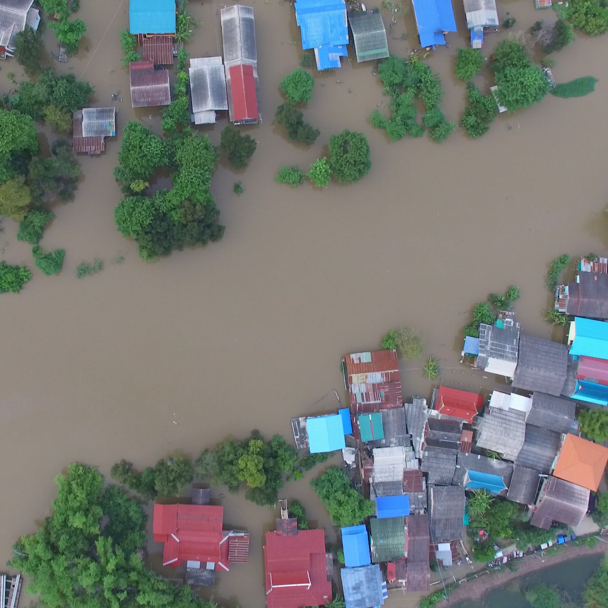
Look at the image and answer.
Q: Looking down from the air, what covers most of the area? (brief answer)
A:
water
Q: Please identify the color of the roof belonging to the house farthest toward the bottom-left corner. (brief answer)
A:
red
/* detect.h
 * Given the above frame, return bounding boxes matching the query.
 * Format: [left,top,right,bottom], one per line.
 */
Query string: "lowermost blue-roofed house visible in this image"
[340,561,388,608]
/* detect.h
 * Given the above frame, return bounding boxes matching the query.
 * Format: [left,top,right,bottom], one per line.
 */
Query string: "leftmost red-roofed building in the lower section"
[153,486,249,586]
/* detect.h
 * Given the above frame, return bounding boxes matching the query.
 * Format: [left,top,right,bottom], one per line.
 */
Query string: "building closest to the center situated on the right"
[340,350,402,414]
